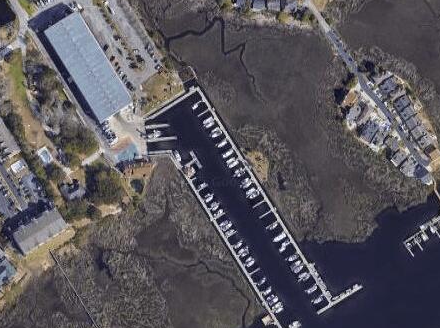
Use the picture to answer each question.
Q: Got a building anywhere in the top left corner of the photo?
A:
Yes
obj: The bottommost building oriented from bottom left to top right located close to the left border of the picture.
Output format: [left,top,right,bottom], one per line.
[12,207,68,254]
